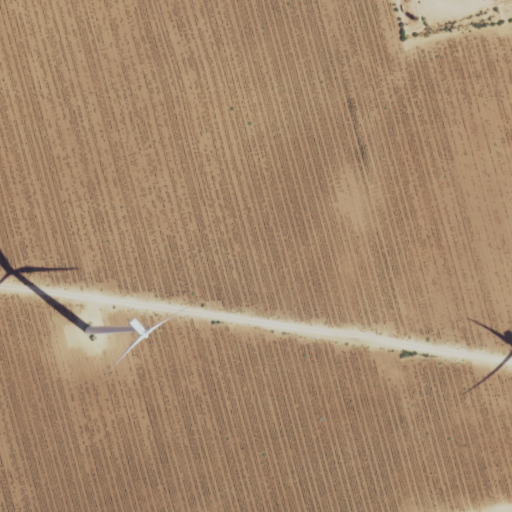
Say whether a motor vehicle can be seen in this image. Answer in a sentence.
No, no motor vehicle is visible in the scene.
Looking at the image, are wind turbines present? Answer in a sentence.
Yes, the image includes a wind turbine.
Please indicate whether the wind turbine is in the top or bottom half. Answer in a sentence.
Seen from above, the wind turbine lies in the bottom half of the view.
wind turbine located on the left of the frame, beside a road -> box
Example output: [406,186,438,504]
[84,306,189,376]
